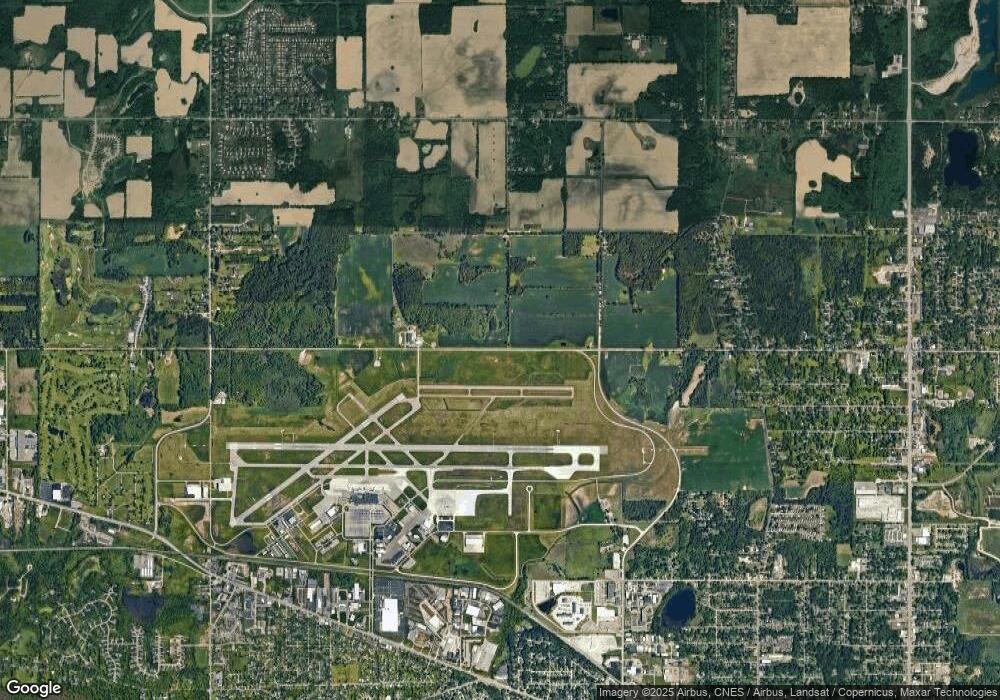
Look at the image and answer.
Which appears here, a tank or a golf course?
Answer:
golf course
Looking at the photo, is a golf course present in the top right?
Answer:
No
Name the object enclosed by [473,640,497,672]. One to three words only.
building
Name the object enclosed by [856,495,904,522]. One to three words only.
building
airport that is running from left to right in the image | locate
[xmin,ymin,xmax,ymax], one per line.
[226,386,608,565]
